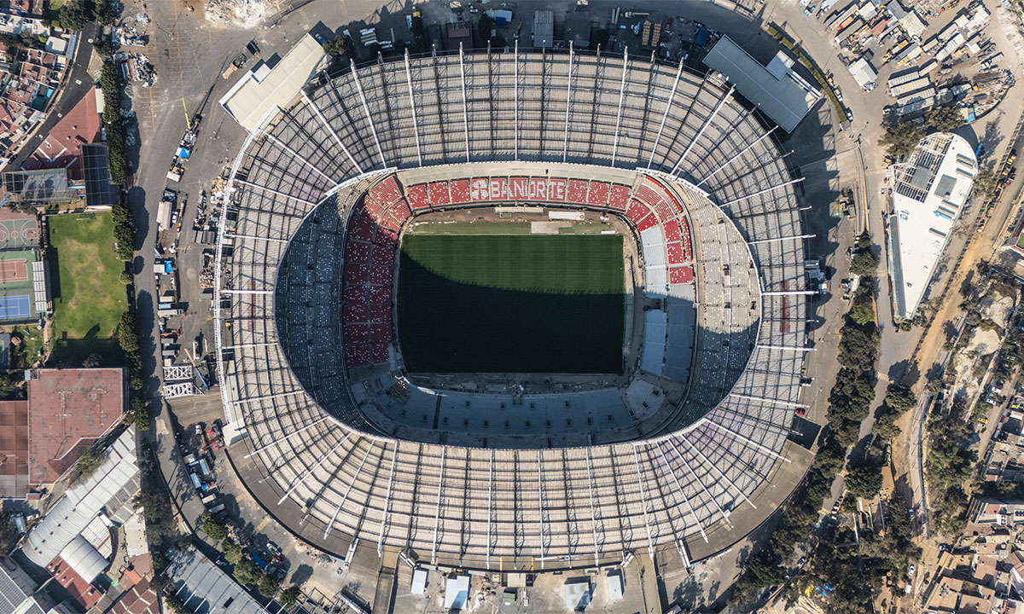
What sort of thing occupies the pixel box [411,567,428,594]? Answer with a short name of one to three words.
tent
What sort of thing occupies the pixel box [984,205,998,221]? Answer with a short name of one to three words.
vehicle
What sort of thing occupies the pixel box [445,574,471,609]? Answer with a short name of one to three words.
tent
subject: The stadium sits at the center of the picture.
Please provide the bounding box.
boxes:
[218,38,819,571]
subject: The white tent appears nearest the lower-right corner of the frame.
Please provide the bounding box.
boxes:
[606,573,622,600]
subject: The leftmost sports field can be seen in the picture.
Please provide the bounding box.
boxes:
[47,212,130,367]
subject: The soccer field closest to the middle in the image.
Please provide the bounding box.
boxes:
[399,222,625,375]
